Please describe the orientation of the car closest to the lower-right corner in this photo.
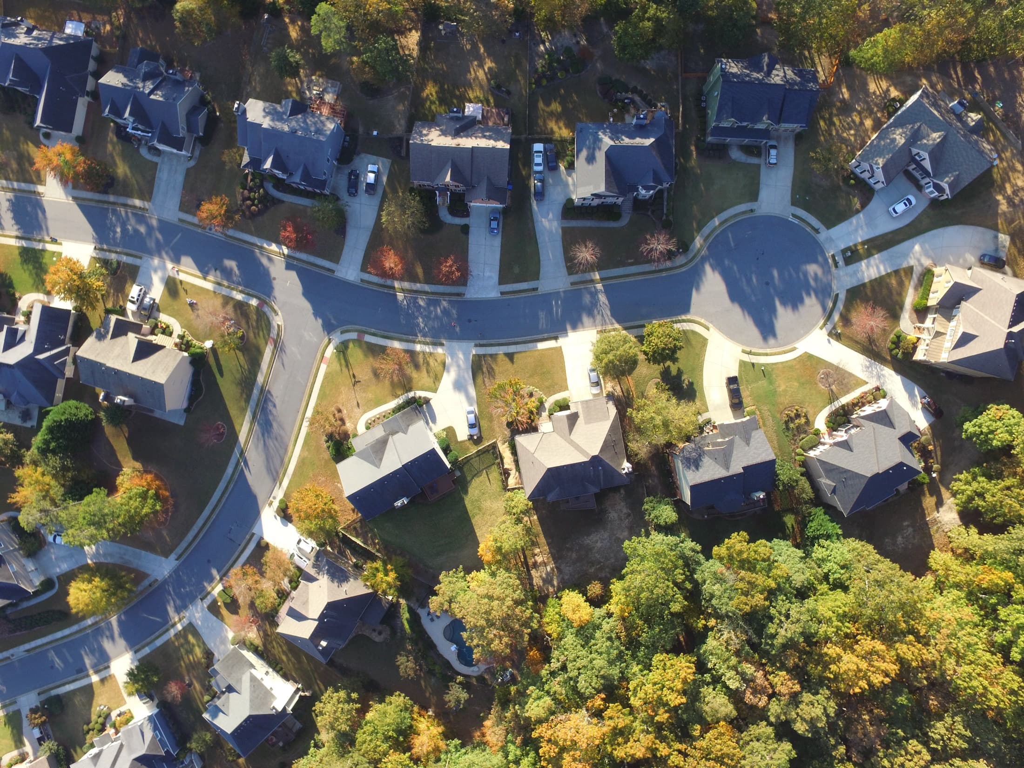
diagonally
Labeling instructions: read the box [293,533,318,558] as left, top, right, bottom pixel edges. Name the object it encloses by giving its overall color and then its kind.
white car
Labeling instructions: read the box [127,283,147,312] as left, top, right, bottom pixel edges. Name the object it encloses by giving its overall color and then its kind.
white car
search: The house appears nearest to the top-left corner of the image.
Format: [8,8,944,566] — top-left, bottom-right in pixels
[0,14,112,143]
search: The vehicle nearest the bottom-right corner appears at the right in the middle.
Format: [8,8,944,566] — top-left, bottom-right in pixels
[918,395,945,421]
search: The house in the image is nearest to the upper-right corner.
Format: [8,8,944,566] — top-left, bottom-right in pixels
[837,85,996,206]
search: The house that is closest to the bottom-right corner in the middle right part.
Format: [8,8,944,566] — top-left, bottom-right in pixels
[803,395,925,517]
